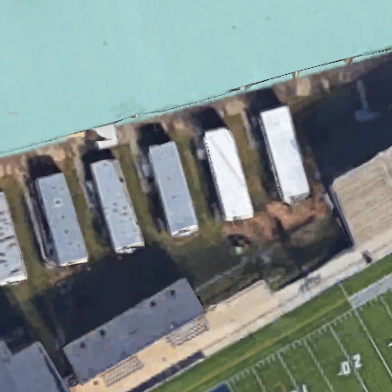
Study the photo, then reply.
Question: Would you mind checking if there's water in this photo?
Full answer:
No, no water is visible.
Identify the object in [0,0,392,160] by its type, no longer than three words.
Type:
building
